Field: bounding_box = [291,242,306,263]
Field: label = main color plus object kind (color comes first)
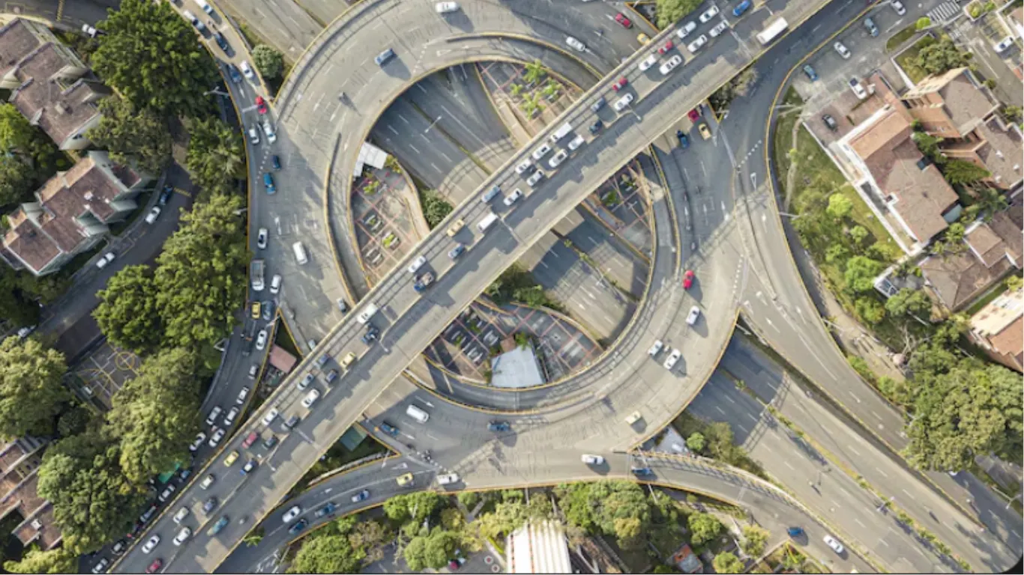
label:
white vehicle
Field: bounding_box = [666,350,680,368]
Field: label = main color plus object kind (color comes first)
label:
white car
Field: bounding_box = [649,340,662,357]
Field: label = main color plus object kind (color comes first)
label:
white vehicle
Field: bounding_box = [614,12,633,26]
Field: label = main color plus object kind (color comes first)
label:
red car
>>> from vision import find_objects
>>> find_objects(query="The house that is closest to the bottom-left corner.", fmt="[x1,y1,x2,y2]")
[0,436,78,547]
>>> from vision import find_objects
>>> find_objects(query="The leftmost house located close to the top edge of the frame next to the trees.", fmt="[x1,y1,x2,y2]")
[0,18,111,152]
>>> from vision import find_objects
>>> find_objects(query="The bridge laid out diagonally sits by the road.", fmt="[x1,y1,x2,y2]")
[105,0,829,575]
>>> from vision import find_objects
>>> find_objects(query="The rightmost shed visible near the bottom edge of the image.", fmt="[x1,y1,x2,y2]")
[672,542,704,575]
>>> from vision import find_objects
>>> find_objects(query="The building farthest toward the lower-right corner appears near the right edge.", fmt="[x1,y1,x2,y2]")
[967,271,1024,373]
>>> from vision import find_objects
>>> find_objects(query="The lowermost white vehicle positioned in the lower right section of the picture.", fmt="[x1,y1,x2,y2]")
[824,537,843,552]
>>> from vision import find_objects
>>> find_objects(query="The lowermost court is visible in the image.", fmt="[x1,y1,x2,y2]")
[64,339,153,418]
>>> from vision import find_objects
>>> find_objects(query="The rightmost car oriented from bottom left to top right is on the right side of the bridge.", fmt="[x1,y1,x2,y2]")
[995,35,1015,50]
